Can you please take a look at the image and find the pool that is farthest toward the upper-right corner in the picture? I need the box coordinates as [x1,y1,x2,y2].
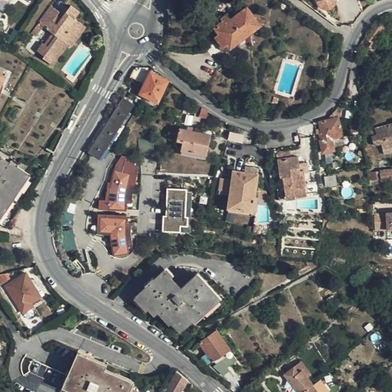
[275,59,304,97]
